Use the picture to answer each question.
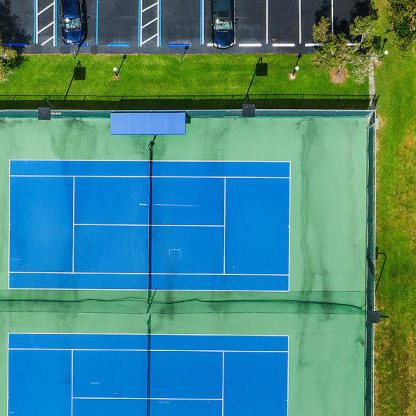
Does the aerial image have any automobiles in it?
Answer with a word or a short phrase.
Yes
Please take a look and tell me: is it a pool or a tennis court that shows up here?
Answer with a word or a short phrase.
tennis court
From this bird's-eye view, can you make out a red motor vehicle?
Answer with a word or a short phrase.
No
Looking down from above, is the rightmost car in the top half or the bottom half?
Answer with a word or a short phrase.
top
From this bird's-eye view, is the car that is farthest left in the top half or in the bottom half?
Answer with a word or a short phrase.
top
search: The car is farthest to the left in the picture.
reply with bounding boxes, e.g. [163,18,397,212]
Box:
[58,0,85,45]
